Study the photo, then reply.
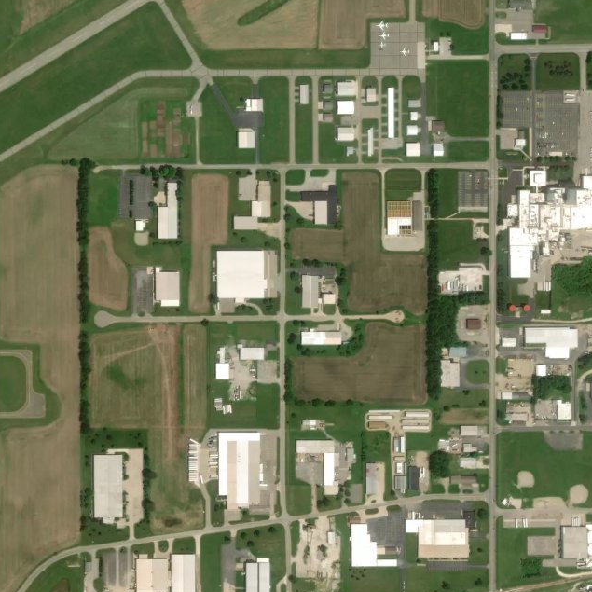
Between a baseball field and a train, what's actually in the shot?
baseball field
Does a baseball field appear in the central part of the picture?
No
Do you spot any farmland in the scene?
Yes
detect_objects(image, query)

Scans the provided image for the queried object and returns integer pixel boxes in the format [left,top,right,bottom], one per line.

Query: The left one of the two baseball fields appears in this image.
[517,460,545,488]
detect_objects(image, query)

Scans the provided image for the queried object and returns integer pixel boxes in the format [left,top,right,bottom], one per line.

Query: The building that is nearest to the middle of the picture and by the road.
[302,275,336,308]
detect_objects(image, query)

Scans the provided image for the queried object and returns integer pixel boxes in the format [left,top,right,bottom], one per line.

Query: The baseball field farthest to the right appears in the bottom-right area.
[563,464,592,502]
